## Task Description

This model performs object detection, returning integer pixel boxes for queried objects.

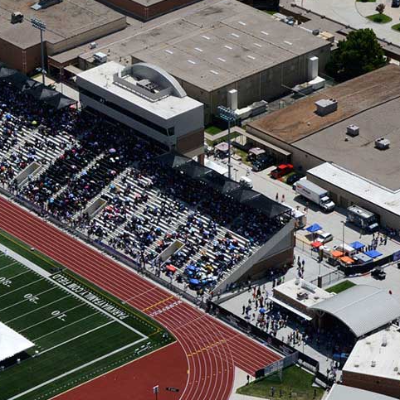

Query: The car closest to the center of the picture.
[235,170,255,186]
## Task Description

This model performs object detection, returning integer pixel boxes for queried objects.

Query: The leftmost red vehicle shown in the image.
[270,161,294,176]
